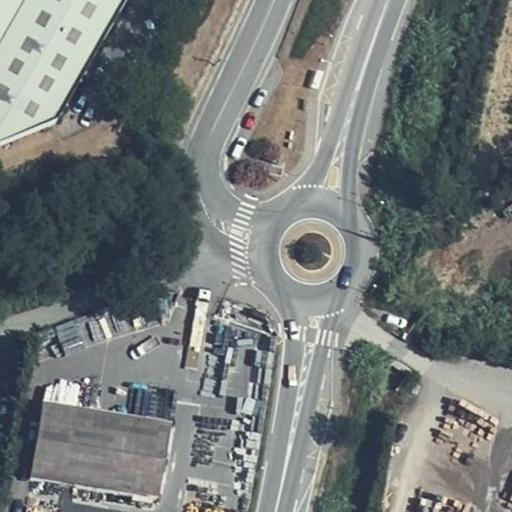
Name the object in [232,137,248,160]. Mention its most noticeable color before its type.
white vehicle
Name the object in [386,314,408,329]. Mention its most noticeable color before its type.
white car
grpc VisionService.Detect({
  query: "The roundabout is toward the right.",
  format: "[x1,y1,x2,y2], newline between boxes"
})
[278,218,346,286]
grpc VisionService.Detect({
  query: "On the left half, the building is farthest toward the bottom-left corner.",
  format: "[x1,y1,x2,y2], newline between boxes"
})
[30,401,173,503]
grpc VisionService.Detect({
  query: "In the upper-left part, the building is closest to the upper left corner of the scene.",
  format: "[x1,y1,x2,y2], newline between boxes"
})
[0,0,130,150]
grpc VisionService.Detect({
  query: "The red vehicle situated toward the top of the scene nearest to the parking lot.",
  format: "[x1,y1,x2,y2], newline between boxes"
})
[244,114,256,130]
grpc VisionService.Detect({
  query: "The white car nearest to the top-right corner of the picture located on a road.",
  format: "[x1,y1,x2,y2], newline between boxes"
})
[254,89,268,107]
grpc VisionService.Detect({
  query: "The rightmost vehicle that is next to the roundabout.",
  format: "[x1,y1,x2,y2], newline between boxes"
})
[338,264,356,290]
